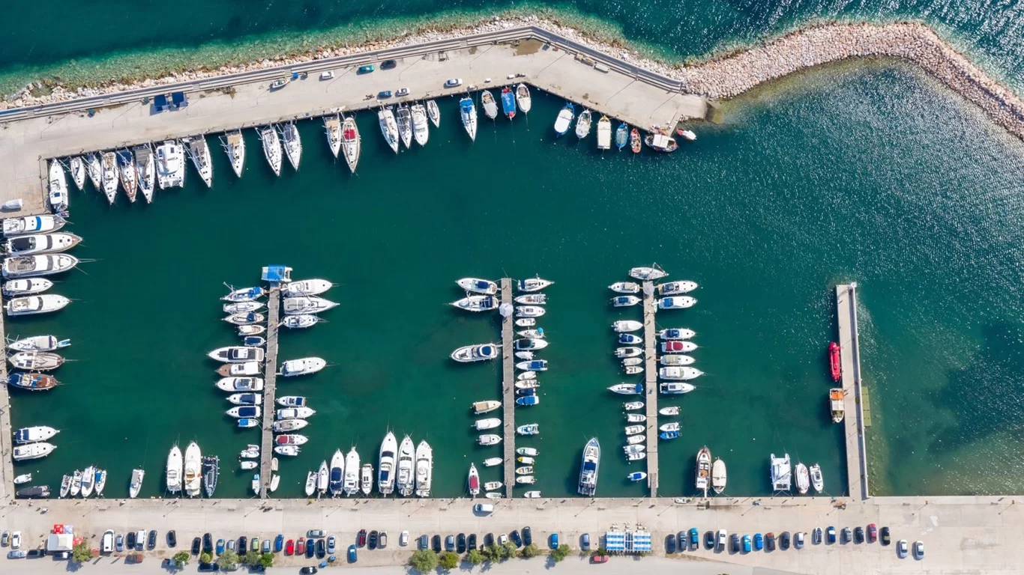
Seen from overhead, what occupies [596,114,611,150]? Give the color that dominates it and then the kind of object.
white boat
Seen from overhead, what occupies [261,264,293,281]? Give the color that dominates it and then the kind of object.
blue boat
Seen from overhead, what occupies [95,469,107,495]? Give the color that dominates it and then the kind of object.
white boat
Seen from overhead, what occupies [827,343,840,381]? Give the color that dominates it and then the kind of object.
red boat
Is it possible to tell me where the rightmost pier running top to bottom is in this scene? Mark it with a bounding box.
[835,284,869,498]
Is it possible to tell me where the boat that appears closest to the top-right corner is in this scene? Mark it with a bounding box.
[676,129,697,142]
